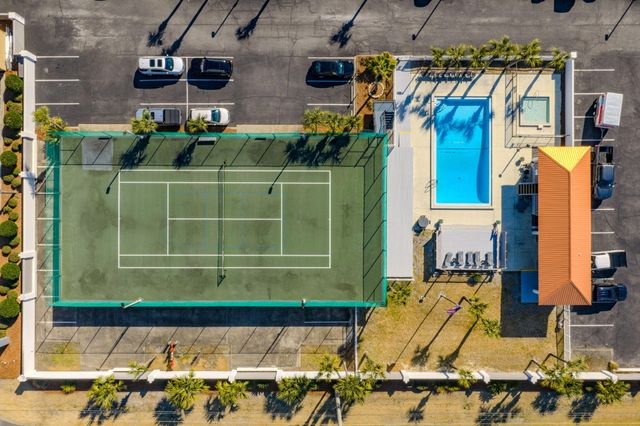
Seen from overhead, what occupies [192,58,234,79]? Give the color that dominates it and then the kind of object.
black car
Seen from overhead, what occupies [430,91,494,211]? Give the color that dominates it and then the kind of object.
blue swimming pool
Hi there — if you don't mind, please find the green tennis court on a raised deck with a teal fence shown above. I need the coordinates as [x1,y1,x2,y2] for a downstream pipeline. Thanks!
[59,137,388,302]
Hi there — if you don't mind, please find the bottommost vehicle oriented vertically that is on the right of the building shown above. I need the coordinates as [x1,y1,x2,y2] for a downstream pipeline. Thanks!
[592,147,616,200]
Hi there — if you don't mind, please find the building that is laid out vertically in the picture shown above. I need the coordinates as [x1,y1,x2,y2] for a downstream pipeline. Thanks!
[531,146,592,305]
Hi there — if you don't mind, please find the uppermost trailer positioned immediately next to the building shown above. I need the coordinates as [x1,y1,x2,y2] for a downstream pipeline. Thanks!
[588,93,623,142]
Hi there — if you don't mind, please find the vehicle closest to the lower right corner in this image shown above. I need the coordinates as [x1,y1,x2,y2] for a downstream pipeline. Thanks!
[592,284,626,304]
